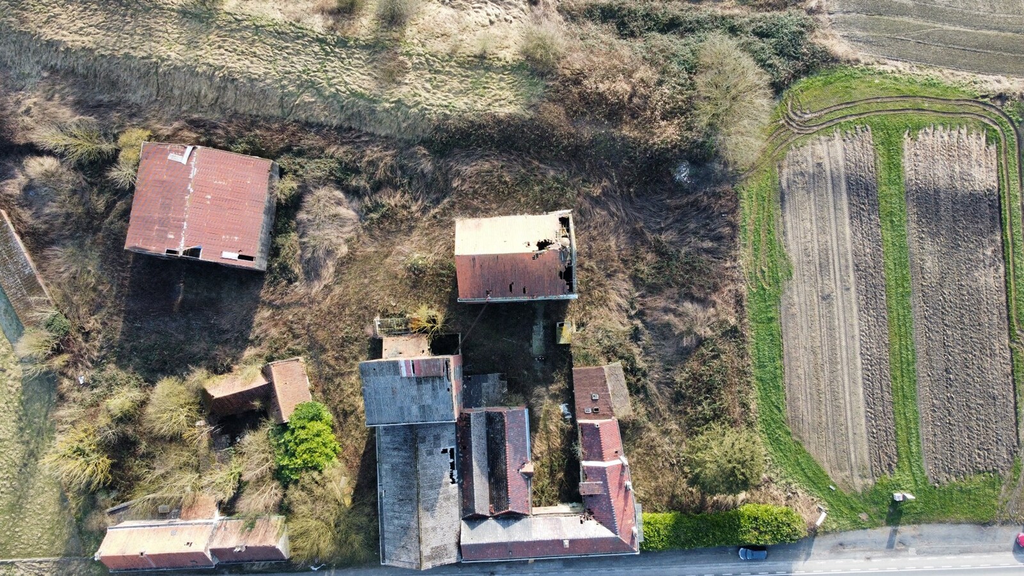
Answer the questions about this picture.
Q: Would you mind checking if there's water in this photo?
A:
No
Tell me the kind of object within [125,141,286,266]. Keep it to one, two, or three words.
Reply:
barn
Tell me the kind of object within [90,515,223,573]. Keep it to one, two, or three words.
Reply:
house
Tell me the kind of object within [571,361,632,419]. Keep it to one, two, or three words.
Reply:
house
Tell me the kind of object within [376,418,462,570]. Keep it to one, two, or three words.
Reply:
building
